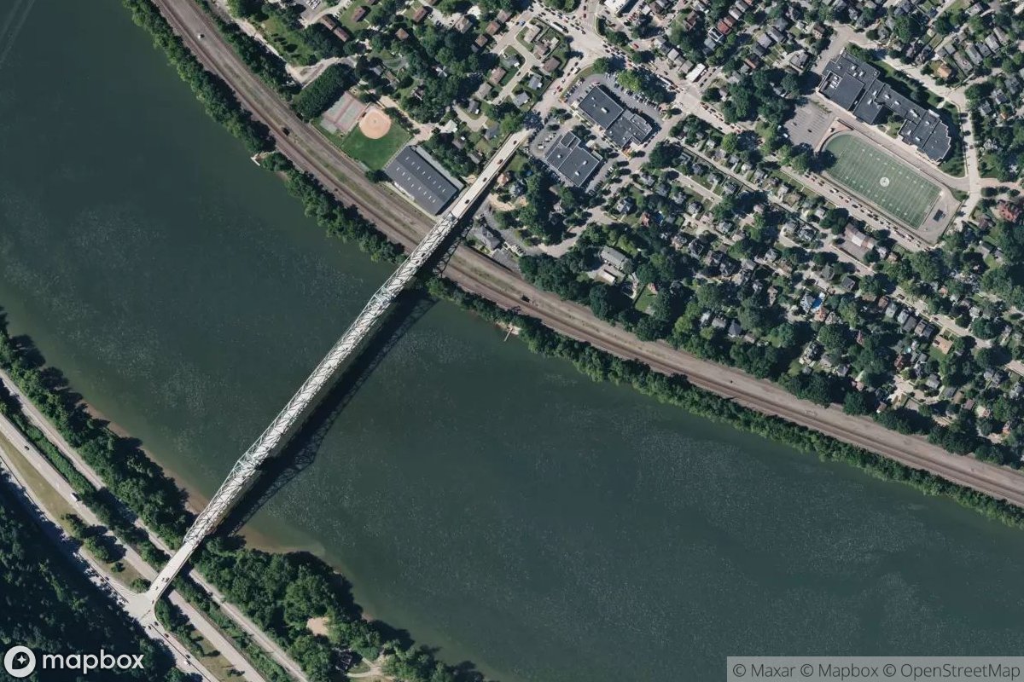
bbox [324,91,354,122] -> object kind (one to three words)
tennis court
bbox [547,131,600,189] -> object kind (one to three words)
building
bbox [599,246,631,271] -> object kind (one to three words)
house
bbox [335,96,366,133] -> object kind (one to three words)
tennis court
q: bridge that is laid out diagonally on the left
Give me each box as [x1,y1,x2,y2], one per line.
[147,131,524,600]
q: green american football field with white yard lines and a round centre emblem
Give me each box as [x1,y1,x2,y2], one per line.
[820,130,966,243]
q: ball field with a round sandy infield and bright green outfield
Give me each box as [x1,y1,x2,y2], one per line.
[341,108,413,169]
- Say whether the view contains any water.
Yes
